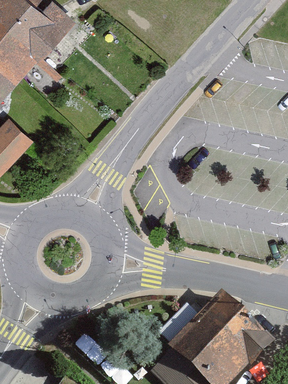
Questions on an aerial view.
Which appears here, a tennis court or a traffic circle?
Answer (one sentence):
The image shows a traffic circle.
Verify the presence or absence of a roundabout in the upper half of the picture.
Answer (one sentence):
No, no roundabout can be made out in the upper half of the picture.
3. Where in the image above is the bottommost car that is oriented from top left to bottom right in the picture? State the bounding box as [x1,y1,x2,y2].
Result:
[256,313,276,333]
